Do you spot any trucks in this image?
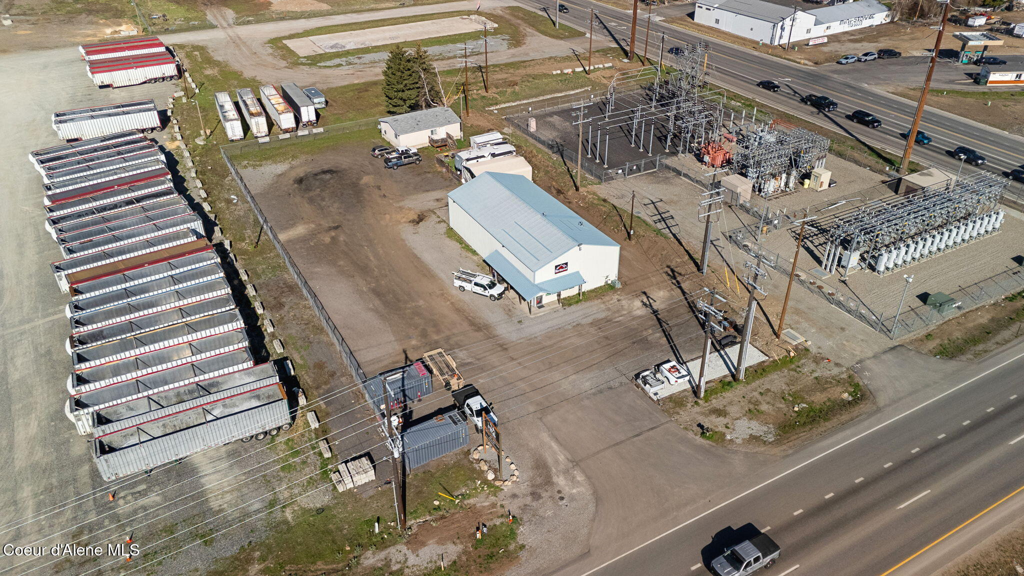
Yes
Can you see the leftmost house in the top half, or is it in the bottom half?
top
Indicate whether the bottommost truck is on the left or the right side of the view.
right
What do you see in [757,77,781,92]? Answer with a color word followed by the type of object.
black car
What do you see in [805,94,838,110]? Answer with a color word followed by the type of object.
black vehicle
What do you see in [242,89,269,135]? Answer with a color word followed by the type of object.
white trailer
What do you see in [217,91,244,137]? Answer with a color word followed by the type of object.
white trailer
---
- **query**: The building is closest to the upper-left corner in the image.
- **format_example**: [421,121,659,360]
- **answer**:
[377,107,461,148]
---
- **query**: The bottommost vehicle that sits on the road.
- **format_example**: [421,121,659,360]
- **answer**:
[709,532,792,576]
